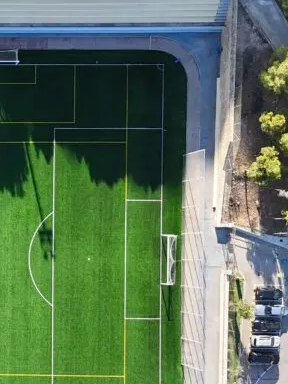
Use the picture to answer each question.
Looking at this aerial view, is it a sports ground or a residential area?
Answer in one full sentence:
The area seen from above is a sports ground.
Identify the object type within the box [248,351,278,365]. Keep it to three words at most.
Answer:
car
